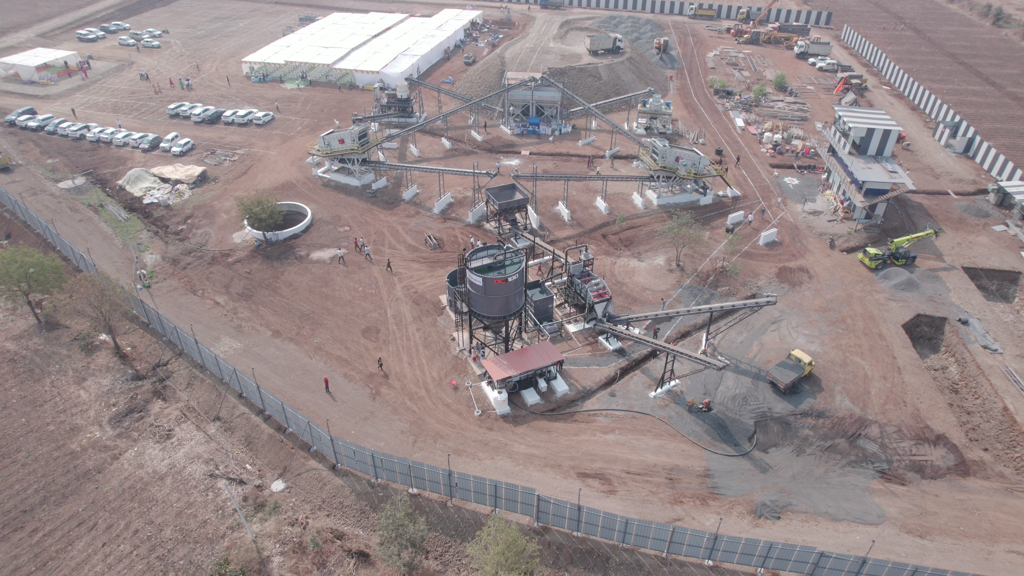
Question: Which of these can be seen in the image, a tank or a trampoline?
tank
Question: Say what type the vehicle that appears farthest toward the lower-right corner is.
truck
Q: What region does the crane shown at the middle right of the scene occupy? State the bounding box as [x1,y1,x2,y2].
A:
[862,220,952,267]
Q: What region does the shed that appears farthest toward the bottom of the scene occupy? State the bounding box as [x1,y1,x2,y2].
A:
[483,339,565,399]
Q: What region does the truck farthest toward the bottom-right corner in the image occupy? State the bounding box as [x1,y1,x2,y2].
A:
[769,344,825,395]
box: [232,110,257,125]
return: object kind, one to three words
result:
car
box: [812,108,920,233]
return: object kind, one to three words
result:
building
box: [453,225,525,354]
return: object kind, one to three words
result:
storage tank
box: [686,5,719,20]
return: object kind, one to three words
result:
vehicle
